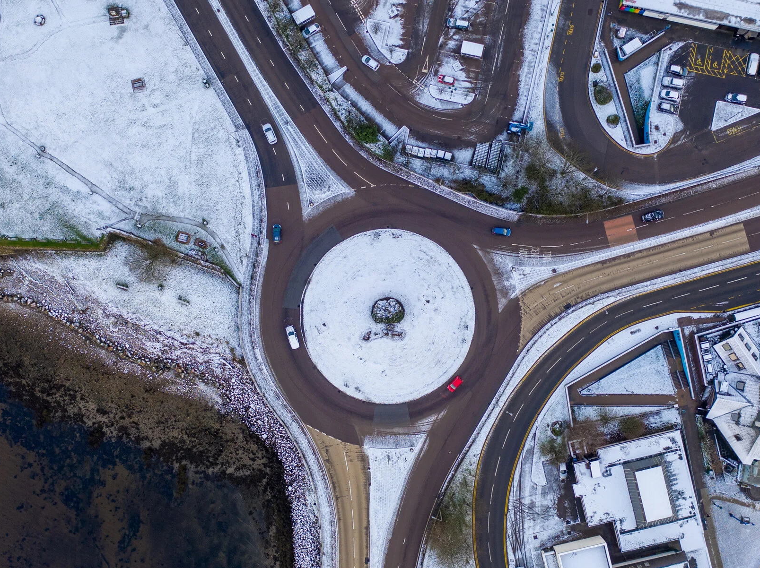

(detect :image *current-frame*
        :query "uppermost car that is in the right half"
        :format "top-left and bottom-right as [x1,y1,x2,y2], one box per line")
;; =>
[447,18,470,31]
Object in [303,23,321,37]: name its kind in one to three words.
vehicle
